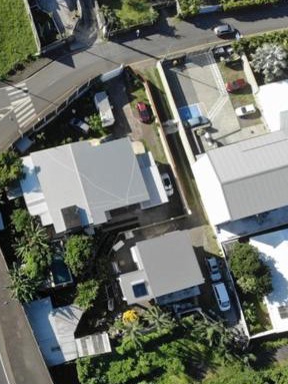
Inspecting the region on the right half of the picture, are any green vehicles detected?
No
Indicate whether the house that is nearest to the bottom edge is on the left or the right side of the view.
left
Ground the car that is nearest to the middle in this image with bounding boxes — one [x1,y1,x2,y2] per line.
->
[159,173,176,196]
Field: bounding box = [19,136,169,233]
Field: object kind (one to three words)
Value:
house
